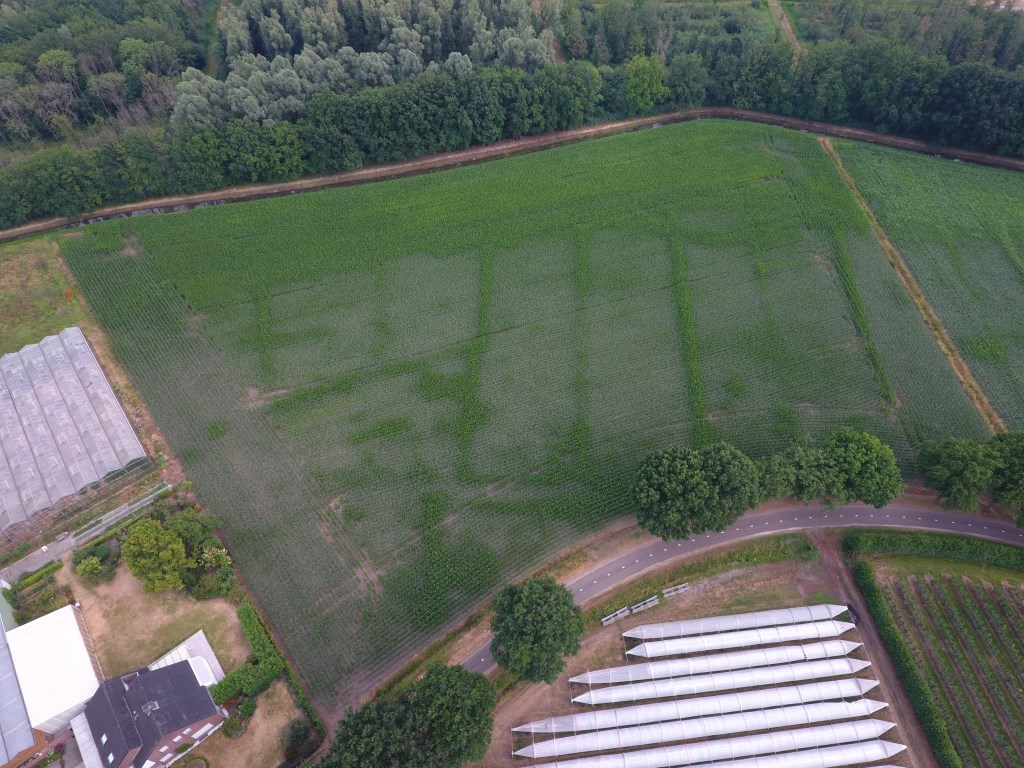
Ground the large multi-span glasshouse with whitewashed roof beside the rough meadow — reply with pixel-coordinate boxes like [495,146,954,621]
[0,326,154,549]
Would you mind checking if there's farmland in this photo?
Yes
